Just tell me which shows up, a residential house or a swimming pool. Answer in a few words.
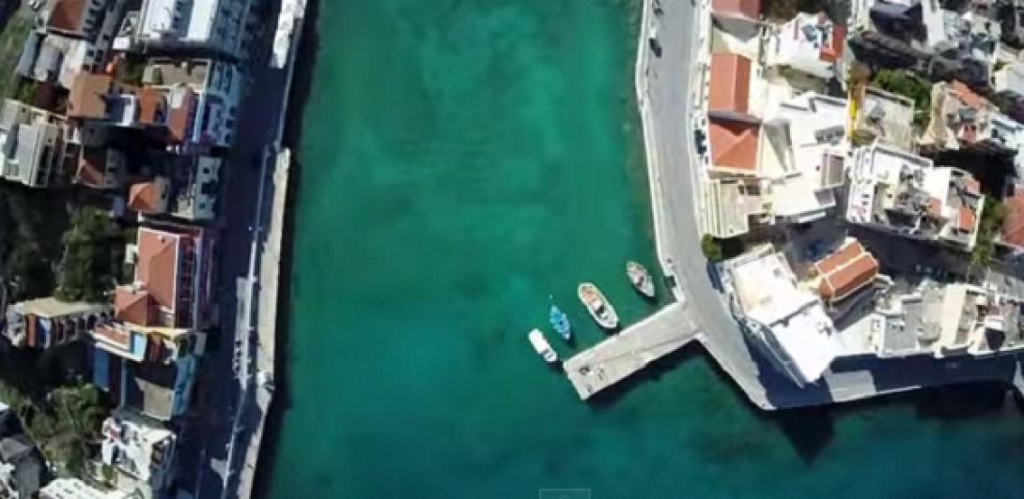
residential house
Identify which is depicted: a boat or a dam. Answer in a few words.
boat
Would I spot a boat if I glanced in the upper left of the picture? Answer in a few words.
No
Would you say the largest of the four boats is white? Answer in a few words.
Yes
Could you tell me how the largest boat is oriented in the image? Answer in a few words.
on a diagonal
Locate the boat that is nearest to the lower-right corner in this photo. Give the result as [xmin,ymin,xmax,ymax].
[629,263,656,299]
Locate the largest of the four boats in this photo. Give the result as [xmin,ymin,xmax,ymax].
[581,284,616,328]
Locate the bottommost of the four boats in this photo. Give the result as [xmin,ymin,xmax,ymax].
[526,326,557,363]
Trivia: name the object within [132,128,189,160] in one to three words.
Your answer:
house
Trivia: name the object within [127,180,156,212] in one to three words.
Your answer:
house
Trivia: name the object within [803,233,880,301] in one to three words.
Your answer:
building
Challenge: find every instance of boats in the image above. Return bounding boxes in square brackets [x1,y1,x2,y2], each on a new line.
[629,263,656,299]
[581,284,616,328]
[526,326,557,363]
[550,306,569,340]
